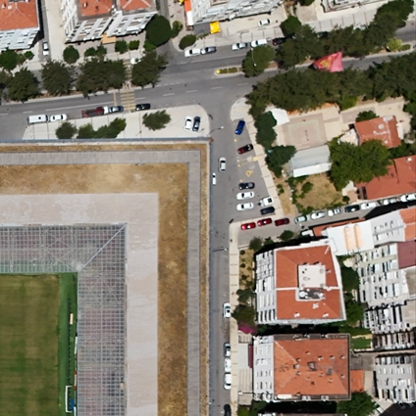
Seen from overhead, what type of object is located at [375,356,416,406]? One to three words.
building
